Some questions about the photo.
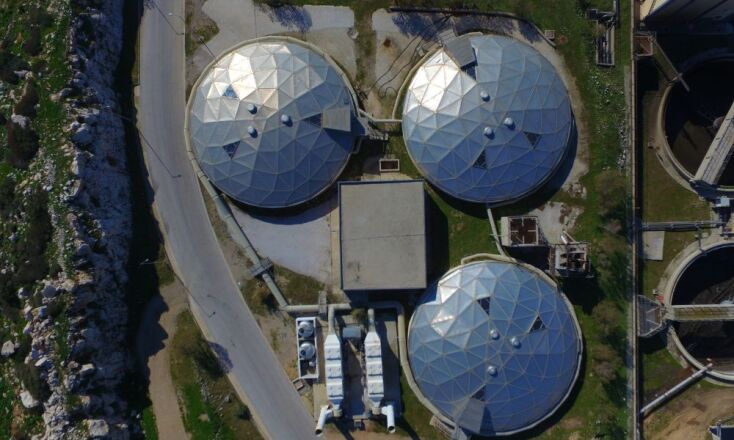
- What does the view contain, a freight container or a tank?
tank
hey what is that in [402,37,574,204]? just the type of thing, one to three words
storage tank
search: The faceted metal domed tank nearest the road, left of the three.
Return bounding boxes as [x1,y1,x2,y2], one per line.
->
[190,44,356,209]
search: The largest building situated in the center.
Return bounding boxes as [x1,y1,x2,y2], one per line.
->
[340,181,426,292]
